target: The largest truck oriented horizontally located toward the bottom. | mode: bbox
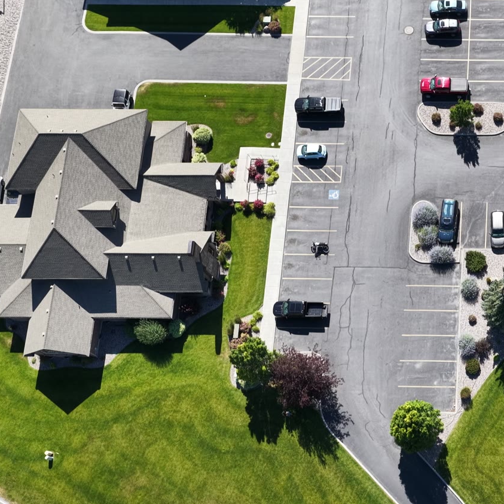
[273,299,330,321]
